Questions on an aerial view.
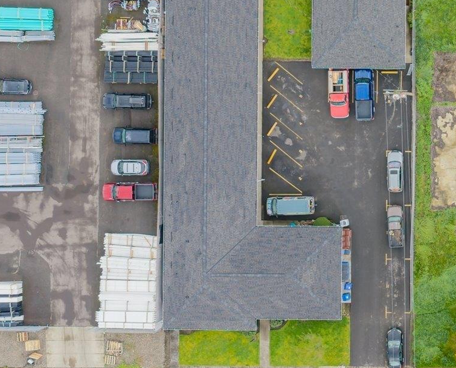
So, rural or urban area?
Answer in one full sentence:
It looks urban.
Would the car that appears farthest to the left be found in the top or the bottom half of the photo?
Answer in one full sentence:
The car that appears farthest to the left sits in the top half of the picture.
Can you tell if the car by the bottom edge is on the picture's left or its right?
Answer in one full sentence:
The car by the bottom edge is on the right side of the image.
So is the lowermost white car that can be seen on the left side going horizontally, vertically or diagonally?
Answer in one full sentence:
Seen from above, the lowermost white car that can be seen on the left side lies horizontally.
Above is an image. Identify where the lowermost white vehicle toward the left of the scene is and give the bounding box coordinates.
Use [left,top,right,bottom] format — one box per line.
[111,157,153,178]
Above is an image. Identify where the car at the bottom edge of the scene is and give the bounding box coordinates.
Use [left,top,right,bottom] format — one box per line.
[384,326,405,368]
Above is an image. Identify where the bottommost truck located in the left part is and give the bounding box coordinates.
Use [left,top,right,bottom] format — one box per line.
[102,181,158,204]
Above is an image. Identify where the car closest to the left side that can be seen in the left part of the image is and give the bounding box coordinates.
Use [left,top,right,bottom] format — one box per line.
[0,76,36,97]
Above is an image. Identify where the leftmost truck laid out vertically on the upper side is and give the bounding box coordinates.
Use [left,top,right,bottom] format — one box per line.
[328,69,350,120]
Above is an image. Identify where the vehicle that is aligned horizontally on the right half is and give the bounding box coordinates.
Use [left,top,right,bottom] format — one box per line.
[266,196,317,219]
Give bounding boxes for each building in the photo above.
[311,0,408,69]
[165,0,343,331]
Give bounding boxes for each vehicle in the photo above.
[385,205,405,250]
[102,181,158,204]
[328,69,350,120]
[112,126,158,146]
[103,89,155,112]
[0,76,36,97]
[111,157,153,178]
[352,69,375,121]
[266,196,317,219]
[384,326,405,368]
[384,151,405,194]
